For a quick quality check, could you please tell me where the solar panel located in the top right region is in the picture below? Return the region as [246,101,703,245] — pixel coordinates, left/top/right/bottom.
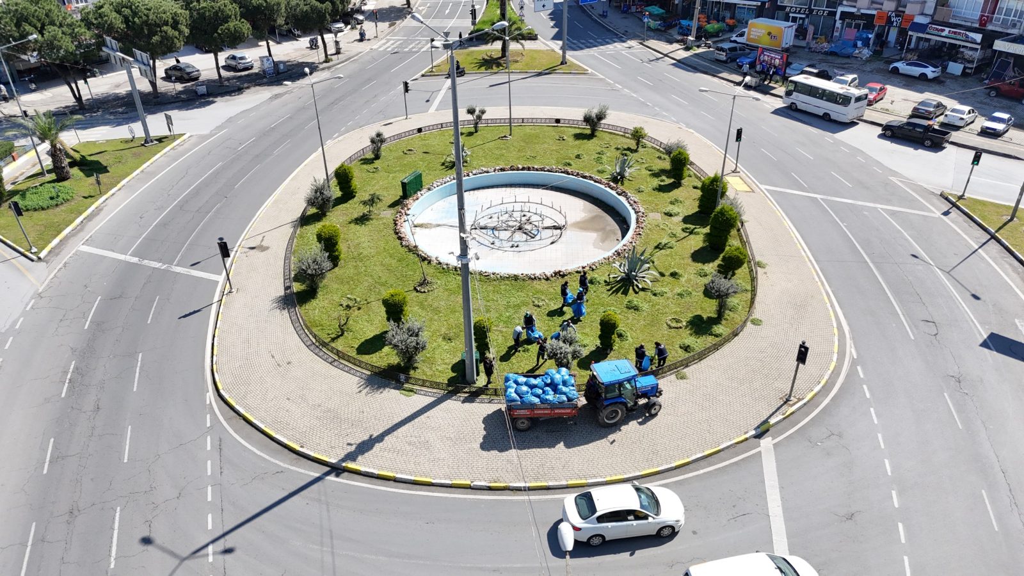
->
[989,53,1024,87]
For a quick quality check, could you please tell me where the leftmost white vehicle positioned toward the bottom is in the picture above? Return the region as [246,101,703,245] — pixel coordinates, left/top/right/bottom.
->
[560,478,690,545]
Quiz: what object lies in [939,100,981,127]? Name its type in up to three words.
car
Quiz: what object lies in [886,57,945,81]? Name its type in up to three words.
car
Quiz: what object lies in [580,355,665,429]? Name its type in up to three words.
work vehicle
